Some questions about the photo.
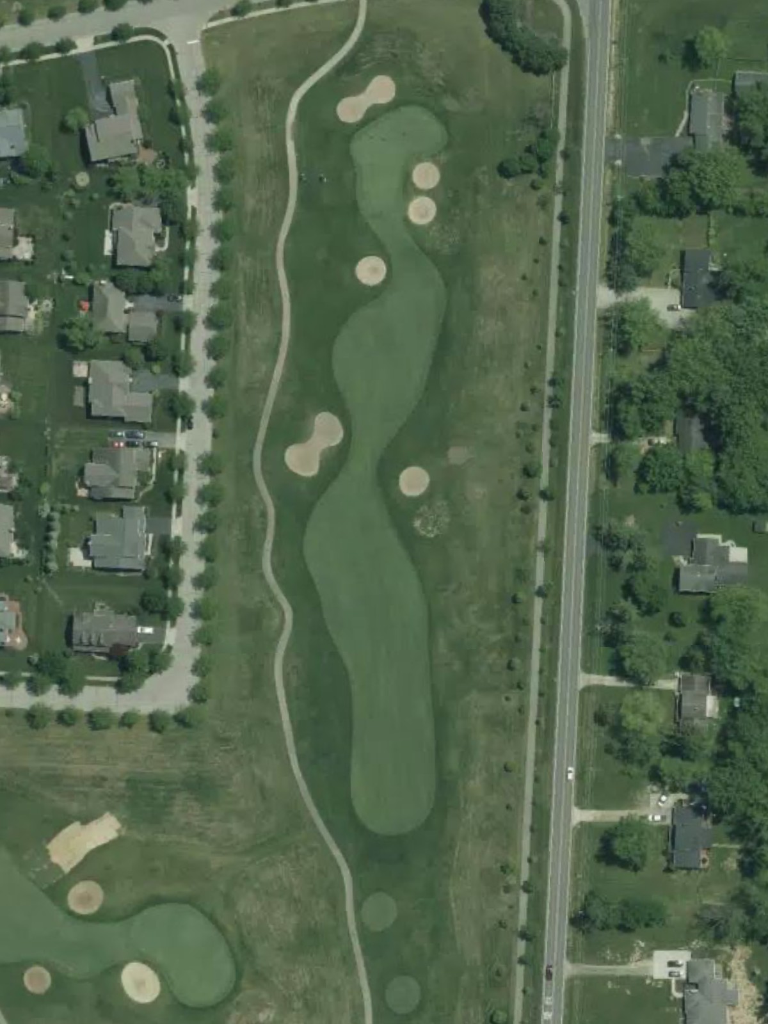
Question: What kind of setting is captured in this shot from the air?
golf course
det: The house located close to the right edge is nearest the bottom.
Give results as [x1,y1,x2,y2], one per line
[684,959,739,1024]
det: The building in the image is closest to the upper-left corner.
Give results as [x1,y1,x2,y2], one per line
[0,109,28,158]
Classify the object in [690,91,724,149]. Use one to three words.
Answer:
house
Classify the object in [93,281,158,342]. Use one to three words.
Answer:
house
